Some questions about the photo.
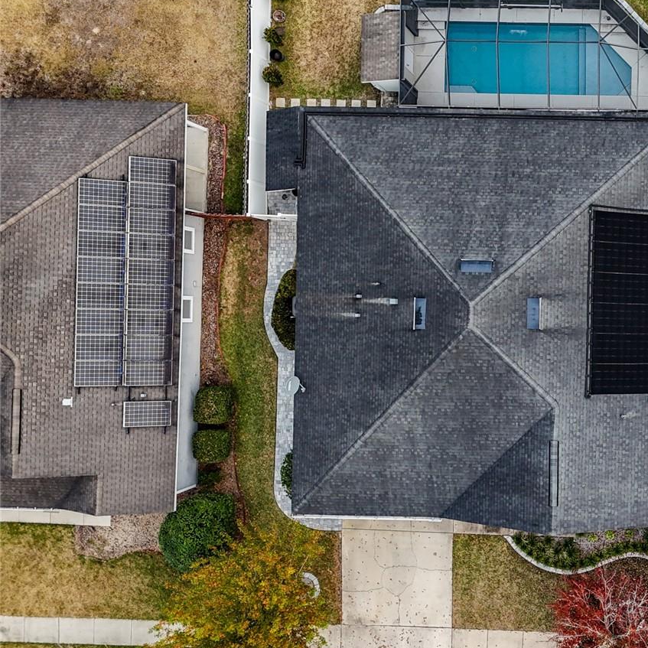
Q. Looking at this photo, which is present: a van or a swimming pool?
swimming pool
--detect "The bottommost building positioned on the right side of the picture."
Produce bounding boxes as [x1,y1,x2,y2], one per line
[264,108,648,533]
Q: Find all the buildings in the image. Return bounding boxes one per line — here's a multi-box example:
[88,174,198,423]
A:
[361,11,414,90]
[264,108,648,533]
[0,99,210,514]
